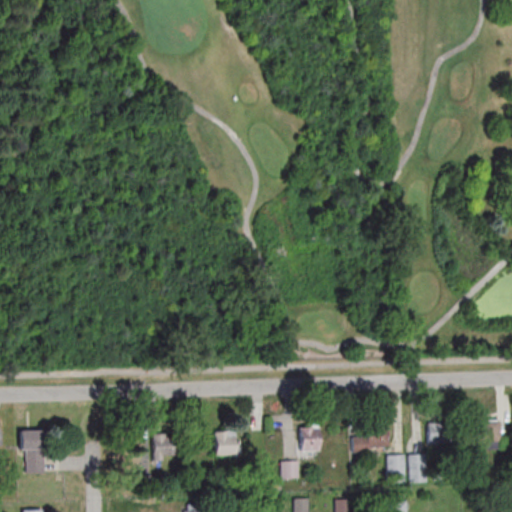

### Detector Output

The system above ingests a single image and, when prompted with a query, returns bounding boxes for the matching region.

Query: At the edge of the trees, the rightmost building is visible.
[486,420,501,450]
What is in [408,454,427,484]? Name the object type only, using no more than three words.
building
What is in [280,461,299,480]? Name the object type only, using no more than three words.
building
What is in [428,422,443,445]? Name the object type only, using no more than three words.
house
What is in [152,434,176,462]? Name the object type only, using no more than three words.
house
